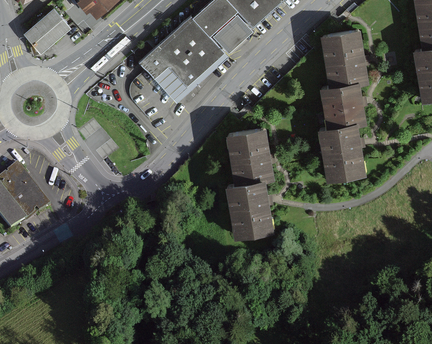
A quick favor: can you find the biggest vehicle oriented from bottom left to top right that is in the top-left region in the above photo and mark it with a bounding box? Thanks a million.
[92,36,130,72]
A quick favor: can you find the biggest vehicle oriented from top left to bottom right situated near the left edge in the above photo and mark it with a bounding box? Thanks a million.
[12,148,27,163]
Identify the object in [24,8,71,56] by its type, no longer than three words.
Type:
house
